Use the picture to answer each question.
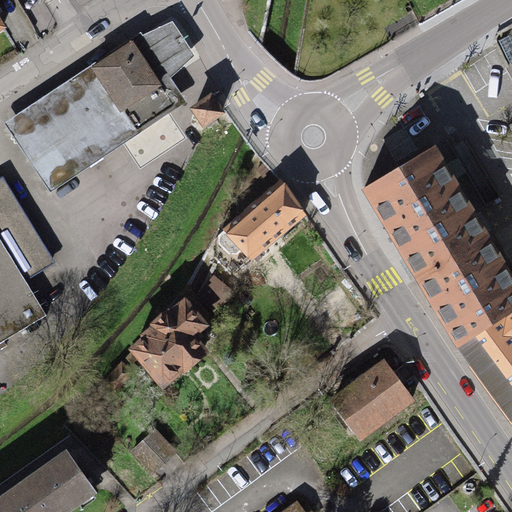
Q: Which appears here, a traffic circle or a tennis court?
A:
traffic circle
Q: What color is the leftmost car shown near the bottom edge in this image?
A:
white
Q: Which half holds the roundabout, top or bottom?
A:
top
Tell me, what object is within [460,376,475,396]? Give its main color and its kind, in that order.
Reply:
red car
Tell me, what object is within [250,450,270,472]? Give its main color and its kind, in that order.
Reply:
black car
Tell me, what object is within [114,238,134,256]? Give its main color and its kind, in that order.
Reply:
white car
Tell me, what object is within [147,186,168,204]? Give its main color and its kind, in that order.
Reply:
black car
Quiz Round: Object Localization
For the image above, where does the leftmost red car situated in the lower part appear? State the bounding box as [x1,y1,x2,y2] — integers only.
[414,360,432,380]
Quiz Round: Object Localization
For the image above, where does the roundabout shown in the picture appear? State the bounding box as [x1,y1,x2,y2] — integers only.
[268,92,358,182]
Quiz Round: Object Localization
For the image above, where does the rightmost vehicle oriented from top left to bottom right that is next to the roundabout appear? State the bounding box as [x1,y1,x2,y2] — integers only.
[308,190,330,215]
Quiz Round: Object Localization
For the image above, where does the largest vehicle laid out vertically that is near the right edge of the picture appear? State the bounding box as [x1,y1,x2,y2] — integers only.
[488,68,501,98]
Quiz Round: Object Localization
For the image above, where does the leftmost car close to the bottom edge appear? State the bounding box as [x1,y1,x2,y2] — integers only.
[228,467,249,488]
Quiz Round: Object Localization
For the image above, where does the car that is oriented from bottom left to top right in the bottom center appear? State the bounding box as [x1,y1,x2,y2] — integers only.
[264,492,287,511]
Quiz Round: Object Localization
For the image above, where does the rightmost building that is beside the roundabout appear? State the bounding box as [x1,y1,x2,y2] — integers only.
[364,146,512,348]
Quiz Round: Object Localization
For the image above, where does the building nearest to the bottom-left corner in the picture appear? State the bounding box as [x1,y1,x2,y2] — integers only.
[0,450,96,512]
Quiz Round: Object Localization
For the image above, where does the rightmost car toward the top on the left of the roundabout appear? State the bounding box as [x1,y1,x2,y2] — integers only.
[251,108,267,130]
